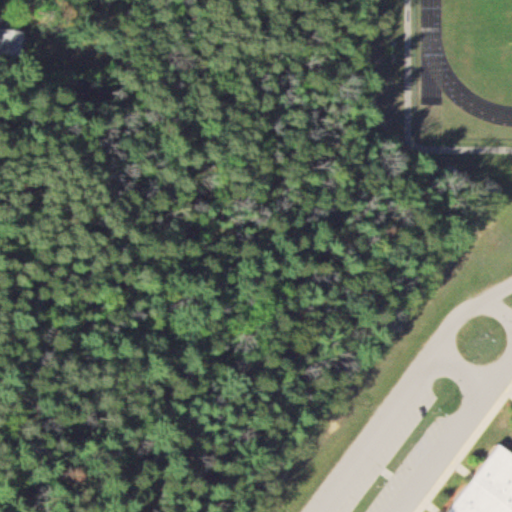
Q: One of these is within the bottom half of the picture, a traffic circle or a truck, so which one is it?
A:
traffic circle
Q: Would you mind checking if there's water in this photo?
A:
No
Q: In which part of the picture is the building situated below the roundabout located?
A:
bottom right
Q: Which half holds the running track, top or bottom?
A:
top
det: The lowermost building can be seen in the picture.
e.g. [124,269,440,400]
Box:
[448,443,512,512]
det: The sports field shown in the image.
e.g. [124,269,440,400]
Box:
[442,0,512,107]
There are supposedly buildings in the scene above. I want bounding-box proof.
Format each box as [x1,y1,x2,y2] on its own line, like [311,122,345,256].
[0,30,26,56]
[448,443,512,512]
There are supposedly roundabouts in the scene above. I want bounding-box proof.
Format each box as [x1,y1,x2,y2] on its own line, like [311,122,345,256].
[456,316,507,365]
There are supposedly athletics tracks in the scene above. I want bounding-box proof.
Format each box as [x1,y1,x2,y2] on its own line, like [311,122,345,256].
[420,0,512,127]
